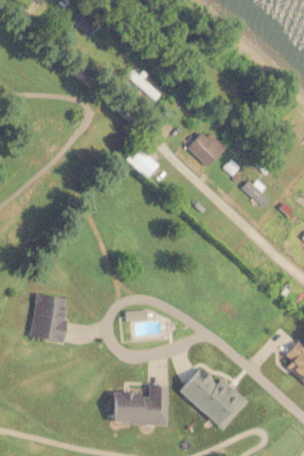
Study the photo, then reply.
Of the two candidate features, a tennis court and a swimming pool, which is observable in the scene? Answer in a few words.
swimming pool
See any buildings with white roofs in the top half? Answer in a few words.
Yes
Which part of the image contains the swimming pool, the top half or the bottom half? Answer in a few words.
bottom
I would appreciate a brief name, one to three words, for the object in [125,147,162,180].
house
